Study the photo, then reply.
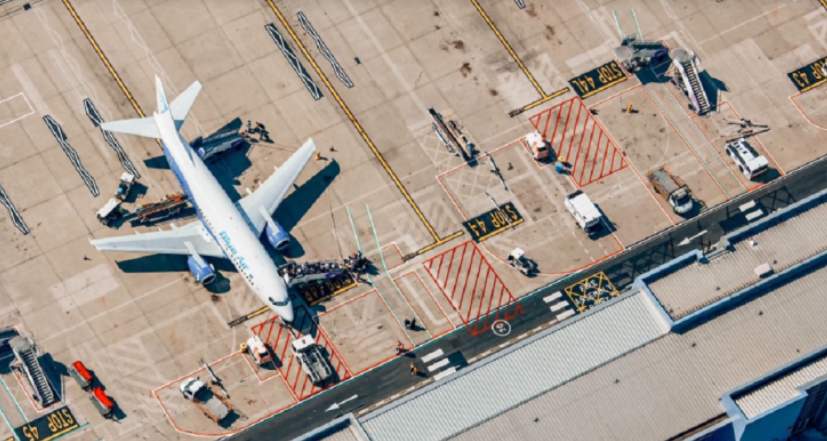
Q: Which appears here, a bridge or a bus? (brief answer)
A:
bus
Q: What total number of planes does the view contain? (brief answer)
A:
1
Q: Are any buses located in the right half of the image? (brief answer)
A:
Yes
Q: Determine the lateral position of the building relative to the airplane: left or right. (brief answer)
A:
on its right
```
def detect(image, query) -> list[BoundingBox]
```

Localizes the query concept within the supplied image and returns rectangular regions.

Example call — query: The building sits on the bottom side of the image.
[293,191,827,441]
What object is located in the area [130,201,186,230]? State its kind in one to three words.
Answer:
work vehicle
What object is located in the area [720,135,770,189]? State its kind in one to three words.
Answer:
bus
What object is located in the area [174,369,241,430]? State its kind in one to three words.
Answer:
truck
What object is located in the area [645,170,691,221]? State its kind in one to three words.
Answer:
truck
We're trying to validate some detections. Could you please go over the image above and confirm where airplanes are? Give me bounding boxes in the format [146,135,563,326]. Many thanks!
[91,77,316,324]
